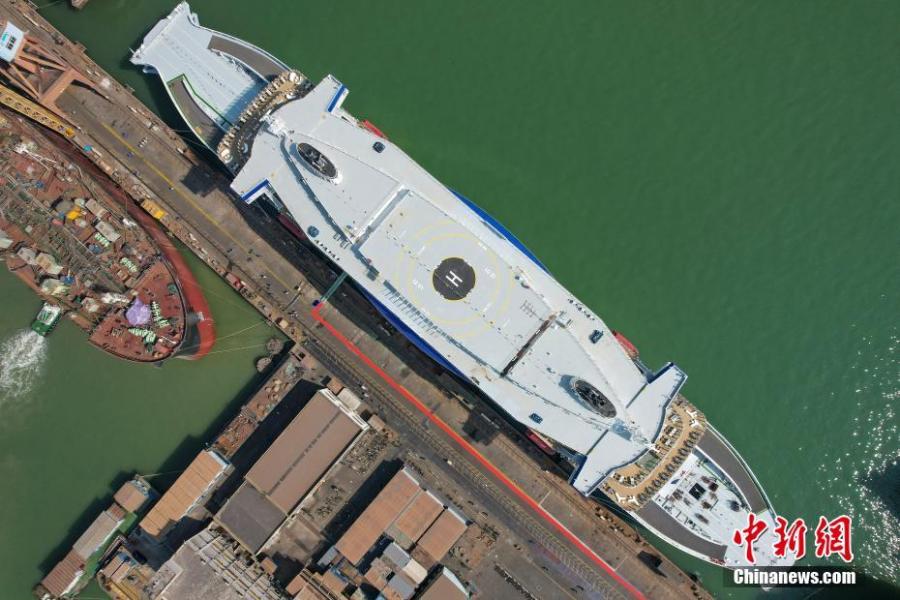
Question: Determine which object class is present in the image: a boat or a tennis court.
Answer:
boat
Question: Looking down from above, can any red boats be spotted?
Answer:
Yes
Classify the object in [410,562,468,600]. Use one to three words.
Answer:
building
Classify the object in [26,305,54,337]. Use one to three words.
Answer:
boat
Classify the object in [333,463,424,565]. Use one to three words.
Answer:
building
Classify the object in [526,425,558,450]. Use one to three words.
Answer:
boat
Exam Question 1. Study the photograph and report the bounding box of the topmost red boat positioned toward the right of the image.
[613,333,635,360]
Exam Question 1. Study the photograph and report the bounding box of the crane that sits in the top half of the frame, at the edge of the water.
[0,11,106,128]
